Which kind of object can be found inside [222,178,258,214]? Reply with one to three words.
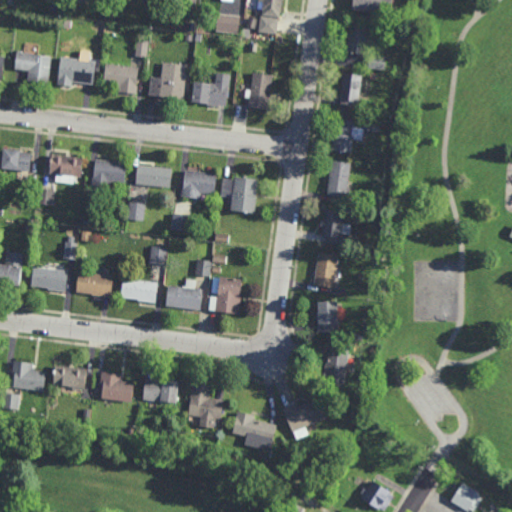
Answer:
house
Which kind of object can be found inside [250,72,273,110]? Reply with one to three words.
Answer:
house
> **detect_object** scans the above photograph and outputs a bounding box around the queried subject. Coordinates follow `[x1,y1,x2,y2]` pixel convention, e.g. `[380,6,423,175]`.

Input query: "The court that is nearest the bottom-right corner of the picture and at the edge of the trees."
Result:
[414,262,459,322]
